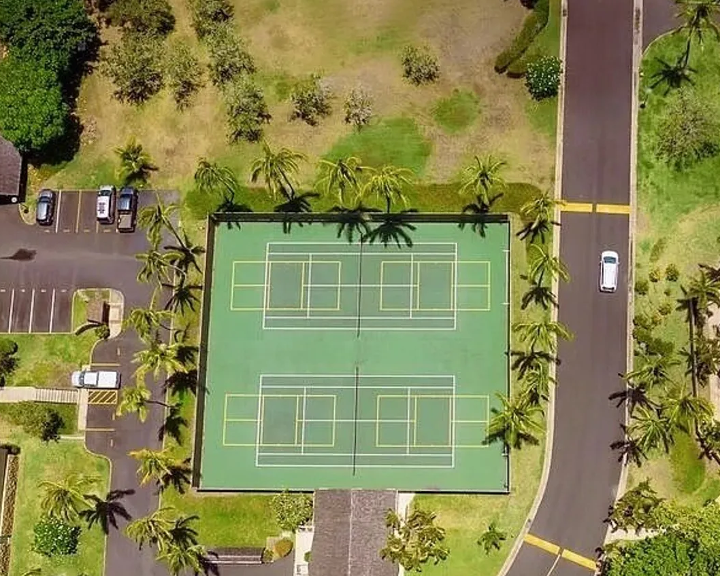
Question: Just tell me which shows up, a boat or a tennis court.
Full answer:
The image shows a tennis court.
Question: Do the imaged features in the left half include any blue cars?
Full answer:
No, I see no blue car in the left half.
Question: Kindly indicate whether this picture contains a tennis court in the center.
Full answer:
Yes, there is a tennis court in the center.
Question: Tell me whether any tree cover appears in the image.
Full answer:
Yes, there is tree cover in the image.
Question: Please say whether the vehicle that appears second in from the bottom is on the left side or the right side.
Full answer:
It is on the right.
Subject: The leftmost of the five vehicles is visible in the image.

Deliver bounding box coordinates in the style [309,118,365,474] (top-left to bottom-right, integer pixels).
[35,190,57,226]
